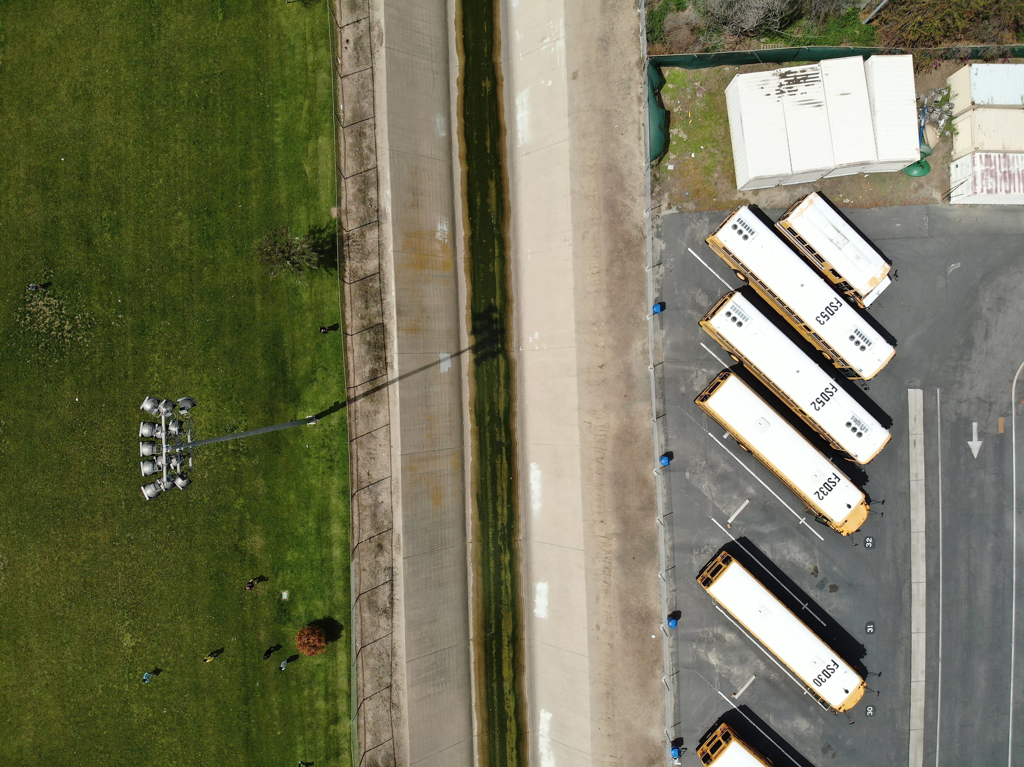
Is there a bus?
Yes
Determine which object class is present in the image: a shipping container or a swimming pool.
shipping container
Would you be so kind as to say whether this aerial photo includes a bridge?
No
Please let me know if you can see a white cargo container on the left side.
No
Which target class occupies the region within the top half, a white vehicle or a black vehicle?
white vehicle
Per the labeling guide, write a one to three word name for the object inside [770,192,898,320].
bus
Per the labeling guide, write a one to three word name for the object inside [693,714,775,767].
bus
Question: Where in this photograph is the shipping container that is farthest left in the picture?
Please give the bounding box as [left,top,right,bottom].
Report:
[725,70,791,191]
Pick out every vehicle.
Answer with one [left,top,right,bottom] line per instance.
[694,293,890,474]
[770,192,898,320]
[691,370,883,546]
[692,545,882,725]
[702,208,896,394]
[693,714,775,767]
